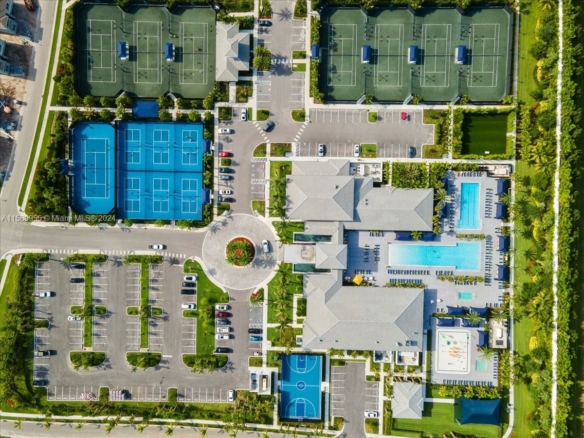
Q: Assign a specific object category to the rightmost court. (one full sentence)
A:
The rightmost court appears to be a tennis court.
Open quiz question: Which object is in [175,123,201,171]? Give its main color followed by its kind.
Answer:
blue sports court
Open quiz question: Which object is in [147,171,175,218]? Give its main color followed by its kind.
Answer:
blue sports court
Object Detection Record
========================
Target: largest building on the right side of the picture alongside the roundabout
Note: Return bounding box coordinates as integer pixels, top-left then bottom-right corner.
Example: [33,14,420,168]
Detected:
[286,159,434,351]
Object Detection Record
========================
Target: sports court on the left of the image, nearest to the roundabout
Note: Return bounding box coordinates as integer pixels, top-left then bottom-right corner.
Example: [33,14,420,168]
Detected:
[175,171,201,218]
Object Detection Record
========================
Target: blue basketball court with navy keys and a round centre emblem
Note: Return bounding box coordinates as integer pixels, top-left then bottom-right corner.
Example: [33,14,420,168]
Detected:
[282,357,322,419]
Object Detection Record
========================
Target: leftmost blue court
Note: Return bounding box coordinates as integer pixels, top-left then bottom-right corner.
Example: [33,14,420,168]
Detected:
[72,121,112,214]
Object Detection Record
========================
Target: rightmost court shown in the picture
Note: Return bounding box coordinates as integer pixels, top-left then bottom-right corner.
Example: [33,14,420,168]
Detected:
[461,8,510,100]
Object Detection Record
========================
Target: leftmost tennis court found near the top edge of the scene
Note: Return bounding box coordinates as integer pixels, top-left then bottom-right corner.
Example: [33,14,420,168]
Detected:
[77,3,124,94]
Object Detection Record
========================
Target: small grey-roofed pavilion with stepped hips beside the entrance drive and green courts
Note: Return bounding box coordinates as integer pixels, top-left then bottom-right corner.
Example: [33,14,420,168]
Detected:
[216,22,250,83]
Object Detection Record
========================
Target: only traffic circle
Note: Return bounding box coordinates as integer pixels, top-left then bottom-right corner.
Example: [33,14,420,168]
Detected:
[202,213,278,290]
